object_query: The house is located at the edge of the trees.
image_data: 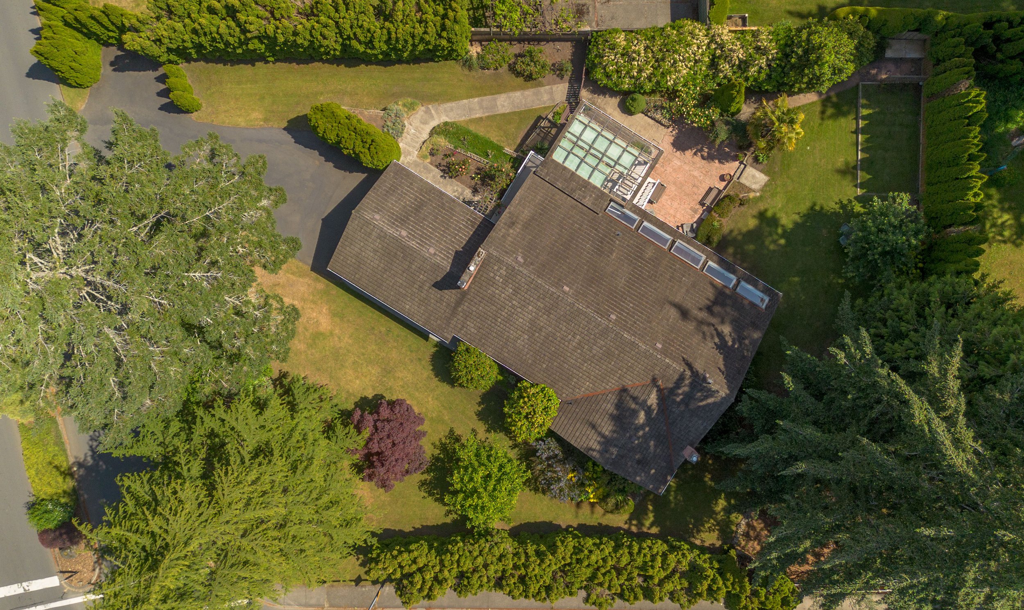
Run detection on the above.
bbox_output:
[326,98,778,496]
